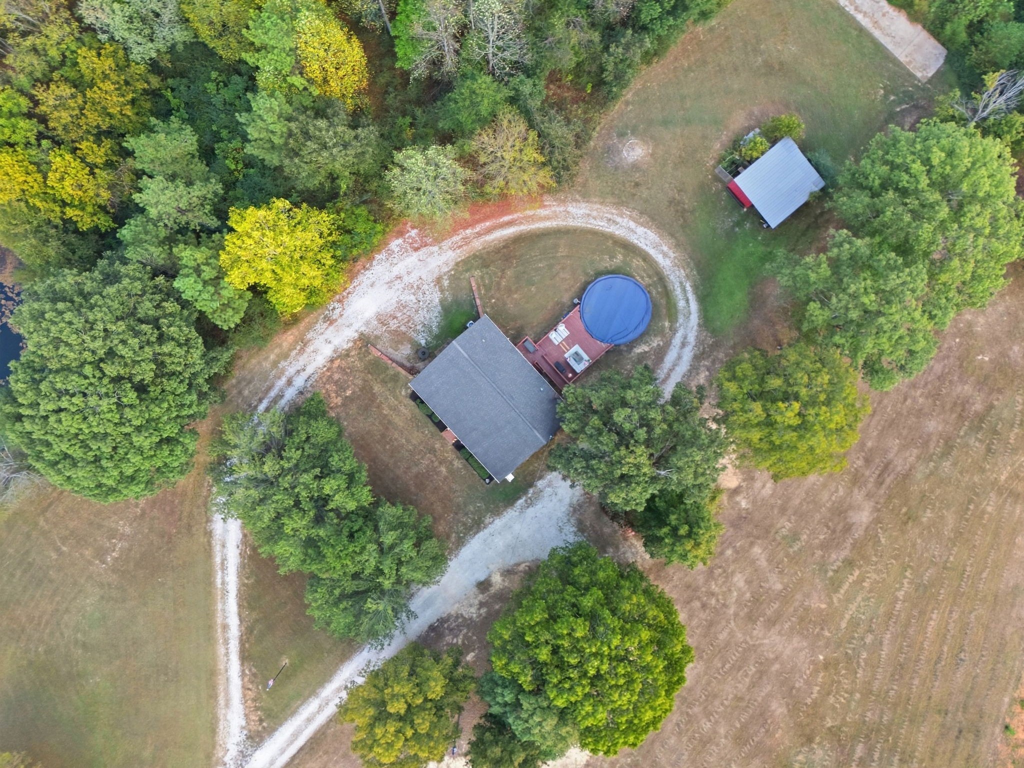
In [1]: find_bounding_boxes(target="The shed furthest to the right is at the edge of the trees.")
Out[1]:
[732,136,823,232]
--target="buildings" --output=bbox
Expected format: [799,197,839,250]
[732,136,823,232]
[409,313,572,483]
